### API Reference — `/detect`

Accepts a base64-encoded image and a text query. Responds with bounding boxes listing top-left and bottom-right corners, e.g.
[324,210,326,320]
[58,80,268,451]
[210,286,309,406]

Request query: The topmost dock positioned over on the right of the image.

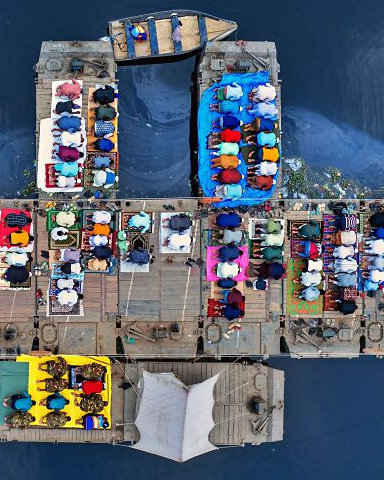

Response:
[192,41,286,200]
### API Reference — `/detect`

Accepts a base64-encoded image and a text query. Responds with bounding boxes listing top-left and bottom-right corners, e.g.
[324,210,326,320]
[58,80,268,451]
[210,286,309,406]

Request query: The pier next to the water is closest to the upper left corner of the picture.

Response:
[30,41,123,200]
